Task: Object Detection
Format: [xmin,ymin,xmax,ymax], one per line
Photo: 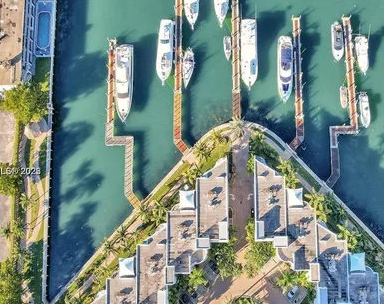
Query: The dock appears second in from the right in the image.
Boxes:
[285,12,307,153]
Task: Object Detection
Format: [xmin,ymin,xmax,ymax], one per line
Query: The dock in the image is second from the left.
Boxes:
[170,0,191,158]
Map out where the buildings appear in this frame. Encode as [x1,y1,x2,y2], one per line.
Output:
[0,0,38,93]
[254,157,384,304]
[89,158,229,304]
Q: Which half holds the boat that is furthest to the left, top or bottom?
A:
top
